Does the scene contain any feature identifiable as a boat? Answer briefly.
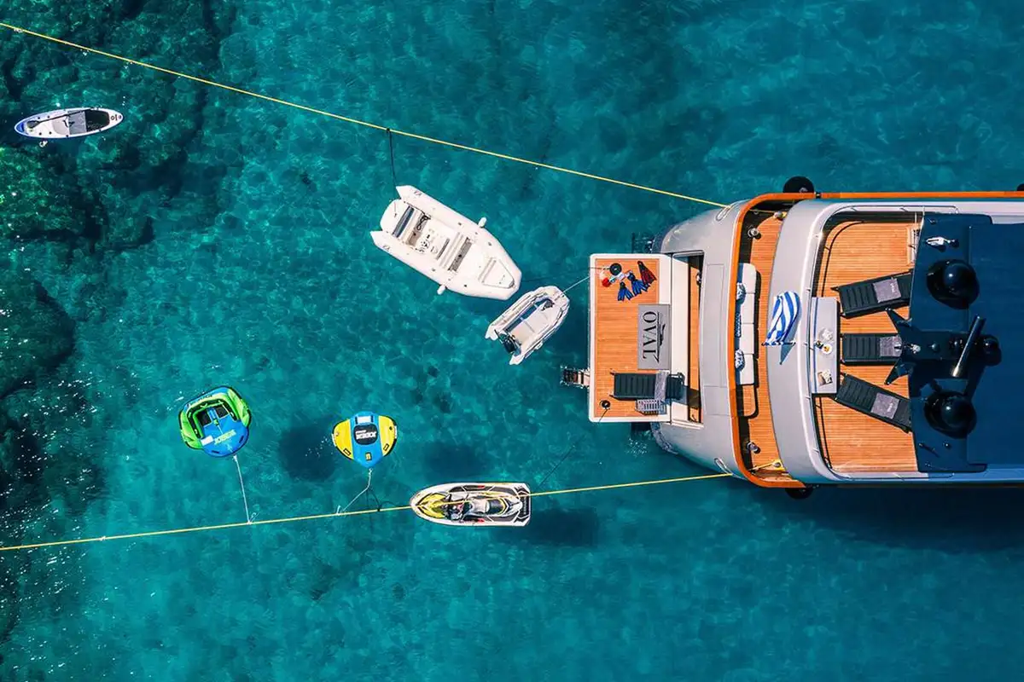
Yes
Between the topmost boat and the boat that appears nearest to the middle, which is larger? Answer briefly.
the topmost boat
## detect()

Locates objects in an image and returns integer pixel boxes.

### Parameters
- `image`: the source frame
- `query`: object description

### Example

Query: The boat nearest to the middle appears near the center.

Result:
[486,288,569,366]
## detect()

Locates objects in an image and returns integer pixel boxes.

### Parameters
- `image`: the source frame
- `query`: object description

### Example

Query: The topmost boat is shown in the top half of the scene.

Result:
[371,187,521,300]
